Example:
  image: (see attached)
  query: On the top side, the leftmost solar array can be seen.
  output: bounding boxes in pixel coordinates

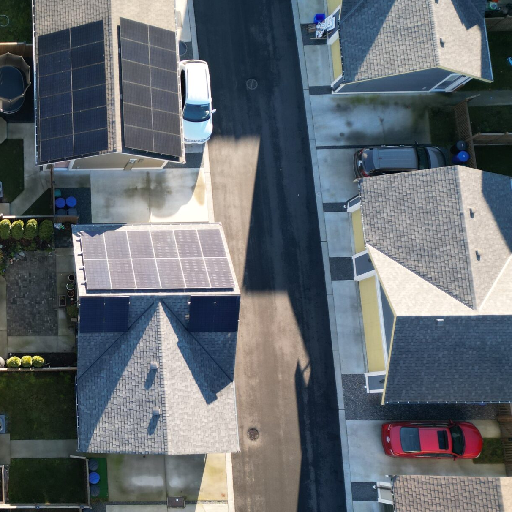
[38,20,108,163]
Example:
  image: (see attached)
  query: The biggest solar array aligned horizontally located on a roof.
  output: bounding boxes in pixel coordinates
[73,229,234,289]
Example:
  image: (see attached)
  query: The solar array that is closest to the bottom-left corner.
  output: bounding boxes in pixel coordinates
[79,297,131,333]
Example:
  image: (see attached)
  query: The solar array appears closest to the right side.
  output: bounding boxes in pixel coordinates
[188,296,241,331]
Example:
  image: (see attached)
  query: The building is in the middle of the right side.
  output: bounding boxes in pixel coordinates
[353,166,512,407]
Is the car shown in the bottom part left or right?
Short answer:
right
